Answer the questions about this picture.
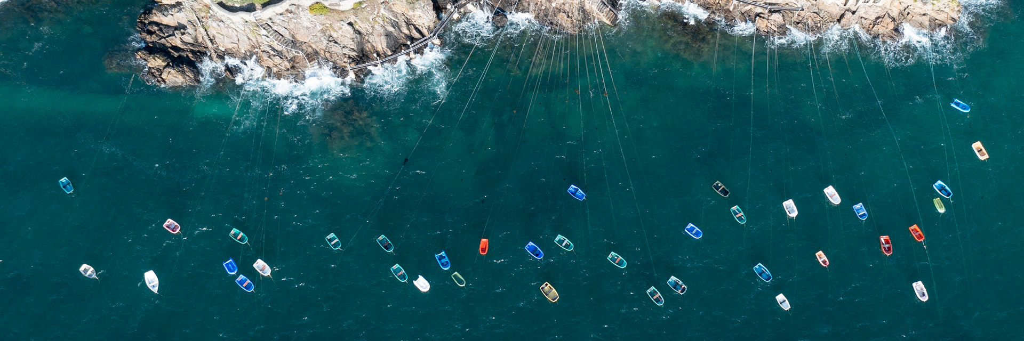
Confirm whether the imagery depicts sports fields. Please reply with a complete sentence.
No, no sports field can be seen from above.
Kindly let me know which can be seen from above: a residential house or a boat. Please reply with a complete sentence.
This aerial view contains a boat.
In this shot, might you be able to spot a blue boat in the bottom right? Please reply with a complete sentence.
Yes, in the bottom right there is a blue boat.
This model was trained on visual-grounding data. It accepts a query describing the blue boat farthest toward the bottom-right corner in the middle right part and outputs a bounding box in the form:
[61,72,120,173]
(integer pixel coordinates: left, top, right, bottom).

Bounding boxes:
[934,180,953,200]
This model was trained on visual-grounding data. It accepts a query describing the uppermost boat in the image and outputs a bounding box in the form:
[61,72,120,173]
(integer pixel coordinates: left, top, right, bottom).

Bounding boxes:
[951,99,970,113]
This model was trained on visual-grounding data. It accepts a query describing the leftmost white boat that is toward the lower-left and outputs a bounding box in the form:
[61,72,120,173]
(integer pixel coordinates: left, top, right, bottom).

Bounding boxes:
[79,263,100,280]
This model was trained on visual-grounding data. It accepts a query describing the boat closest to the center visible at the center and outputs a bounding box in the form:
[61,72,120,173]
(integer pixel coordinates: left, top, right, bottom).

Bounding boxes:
[568,185,585,200]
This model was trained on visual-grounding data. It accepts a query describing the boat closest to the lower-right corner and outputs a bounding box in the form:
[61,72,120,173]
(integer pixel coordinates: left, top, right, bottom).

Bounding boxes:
[913,281,929,303]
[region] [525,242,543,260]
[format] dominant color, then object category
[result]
blue boat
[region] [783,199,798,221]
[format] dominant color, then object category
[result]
white boat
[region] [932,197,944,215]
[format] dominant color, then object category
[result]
green boat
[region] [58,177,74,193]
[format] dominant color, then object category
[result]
blue boat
